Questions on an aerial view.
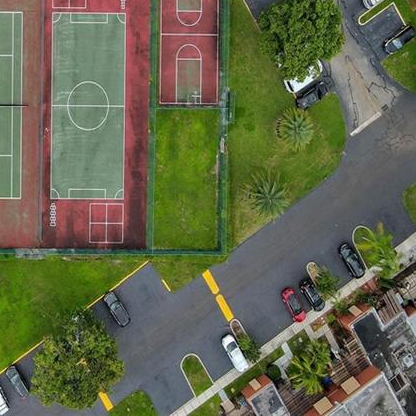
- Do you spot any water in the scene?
No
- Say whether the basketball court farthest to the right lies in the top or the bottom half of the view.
top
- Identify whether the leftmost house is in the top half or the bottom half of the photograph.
bottom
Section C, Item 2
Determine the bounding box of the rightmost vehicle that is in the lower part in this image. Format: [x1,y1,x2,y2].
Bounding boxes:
[337,242,366,278]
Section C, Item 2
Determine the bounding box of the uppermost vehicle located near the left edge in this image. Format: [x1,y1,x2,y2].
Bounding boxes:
[6,364,30,398]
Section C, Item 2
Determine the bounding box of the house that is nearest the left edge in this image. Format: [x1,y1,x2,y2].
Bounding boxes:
[236,372,290,416]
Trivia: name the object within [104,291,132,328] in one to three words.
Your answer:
car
